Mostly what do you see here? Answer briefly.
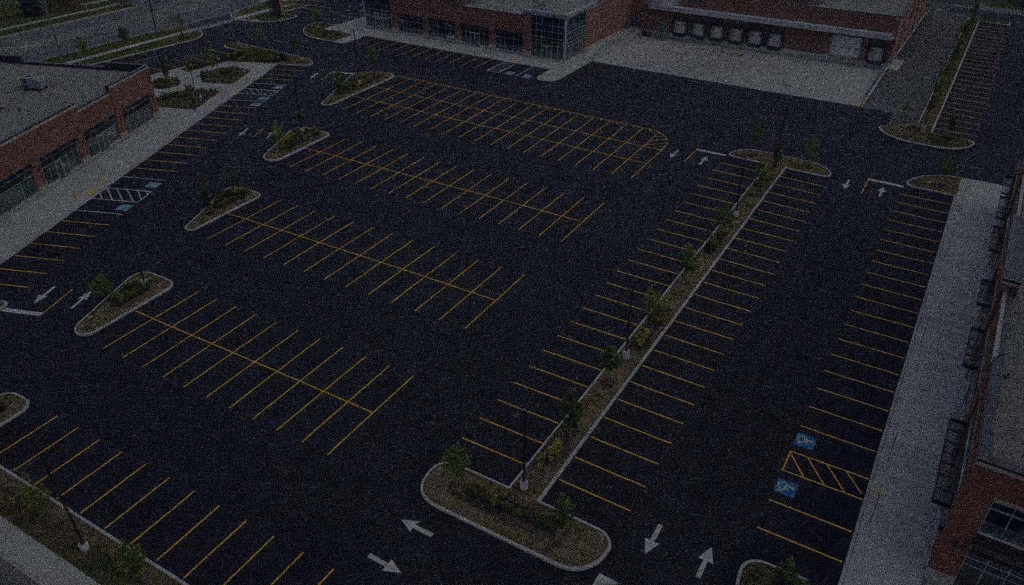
paved ground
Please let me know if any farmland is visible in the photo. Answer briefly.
No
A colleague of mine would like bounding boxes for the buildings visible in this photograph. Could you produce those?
[361,0,929,71]
[923,133,1024,585]
[0,57,157,211]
